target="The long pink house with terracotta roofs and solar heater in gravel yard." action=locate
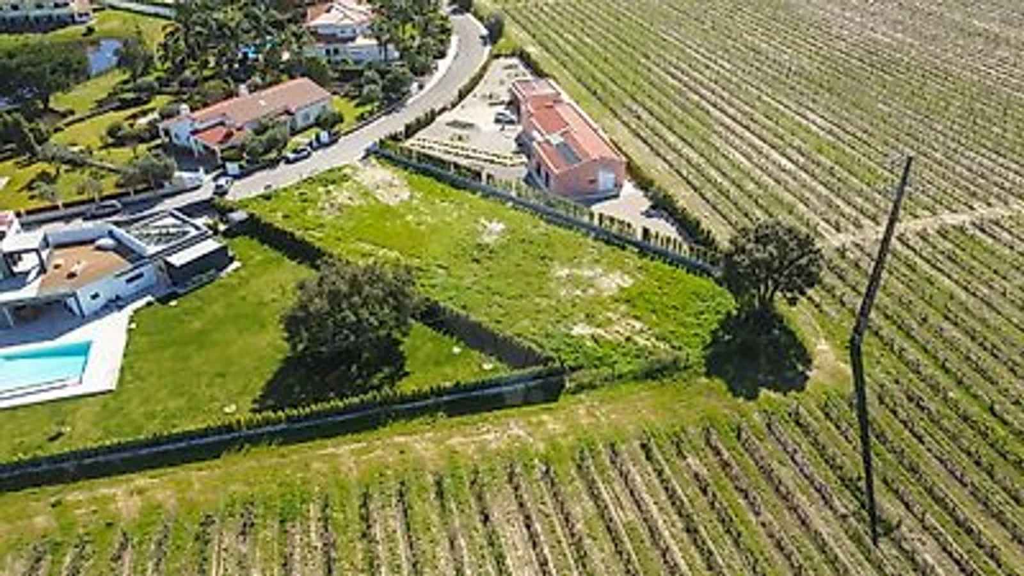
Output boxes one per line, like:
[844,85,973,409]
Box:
[504,64,626,199]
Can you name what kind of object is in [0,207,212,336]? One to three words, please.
house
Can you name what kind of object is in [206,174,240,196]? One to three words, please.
car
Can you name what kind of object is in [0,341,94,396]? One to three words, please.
swimming pool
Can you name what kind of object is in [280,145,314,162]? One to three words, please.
car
